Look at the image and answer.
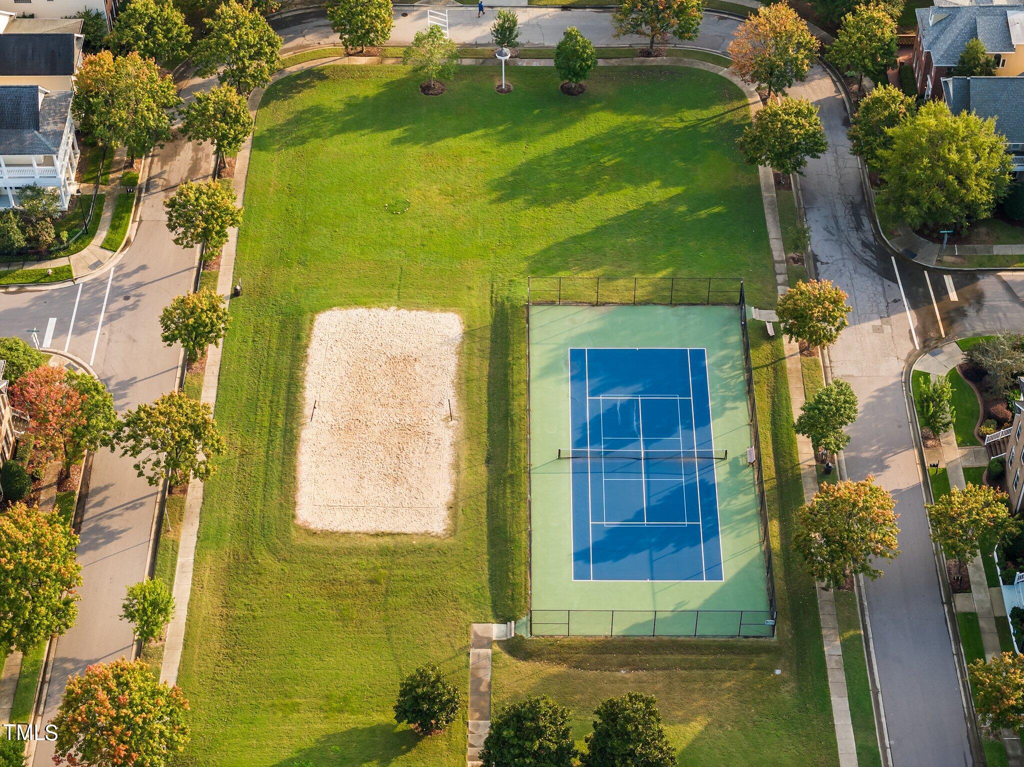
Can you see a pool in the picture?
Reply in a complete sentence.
No, there appears to be no pool in this shot.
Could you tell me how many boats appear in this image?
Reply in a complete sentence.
No boats are visible.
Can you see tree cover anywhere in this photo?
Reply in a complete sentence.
Yes, the picture does contain tree cover.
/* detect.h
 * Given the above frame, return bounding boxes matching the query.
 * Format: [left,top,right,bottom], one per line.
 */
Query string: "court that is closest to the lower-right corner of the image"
[515,303,777,641]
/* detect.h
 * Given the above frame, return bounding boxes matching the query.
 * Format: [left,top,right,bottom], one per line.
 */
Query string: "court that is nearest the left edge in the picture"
[296,308,462,536]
